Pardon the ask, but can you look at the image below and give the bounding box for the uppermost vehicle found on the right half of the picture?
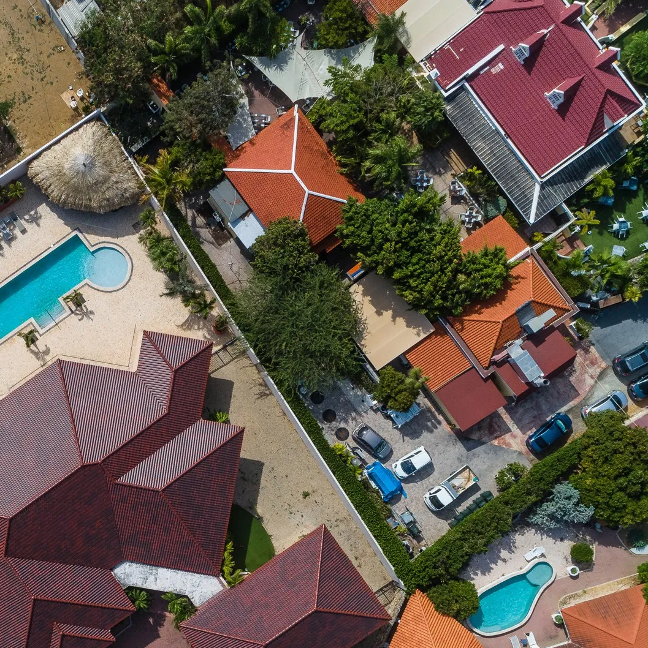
[607,340,648,380]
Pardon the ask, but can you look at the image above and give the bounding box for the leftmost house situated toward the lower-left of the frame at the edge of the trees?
[0,330,246,648]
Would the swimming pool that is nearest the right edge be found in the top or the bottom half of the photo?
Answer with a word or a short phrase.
bottom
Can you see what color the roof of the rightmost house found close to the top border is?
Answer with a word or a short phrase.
red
